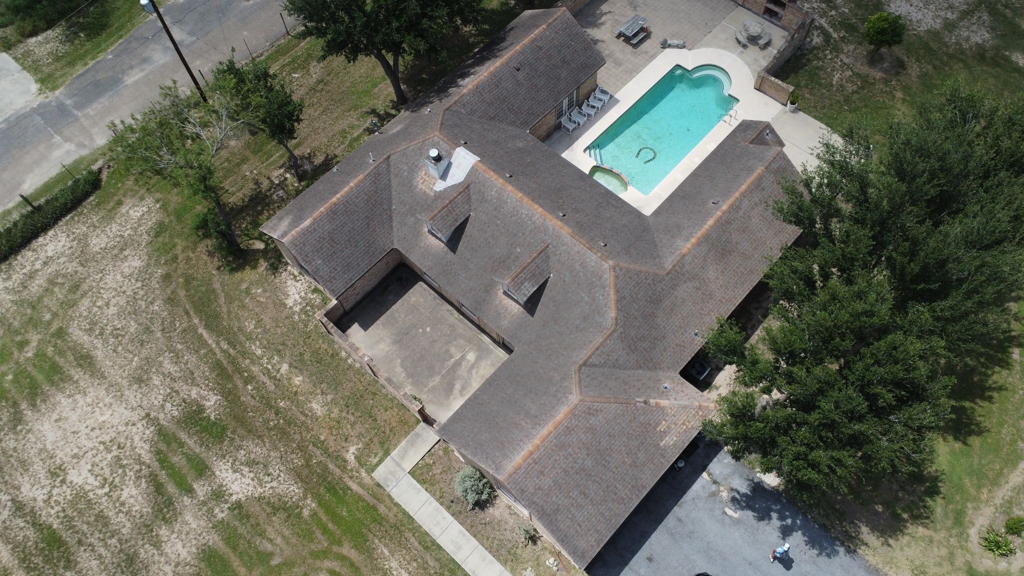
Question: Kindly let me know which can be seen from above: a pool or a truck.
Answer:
pool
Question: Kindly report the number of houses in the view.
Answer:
one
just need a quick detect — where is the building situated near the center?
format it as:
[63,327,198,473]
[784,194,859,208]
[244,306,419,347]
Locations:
[260,6,817,571]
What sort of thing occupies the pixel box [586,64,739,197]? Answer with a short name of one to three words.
swimming pool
